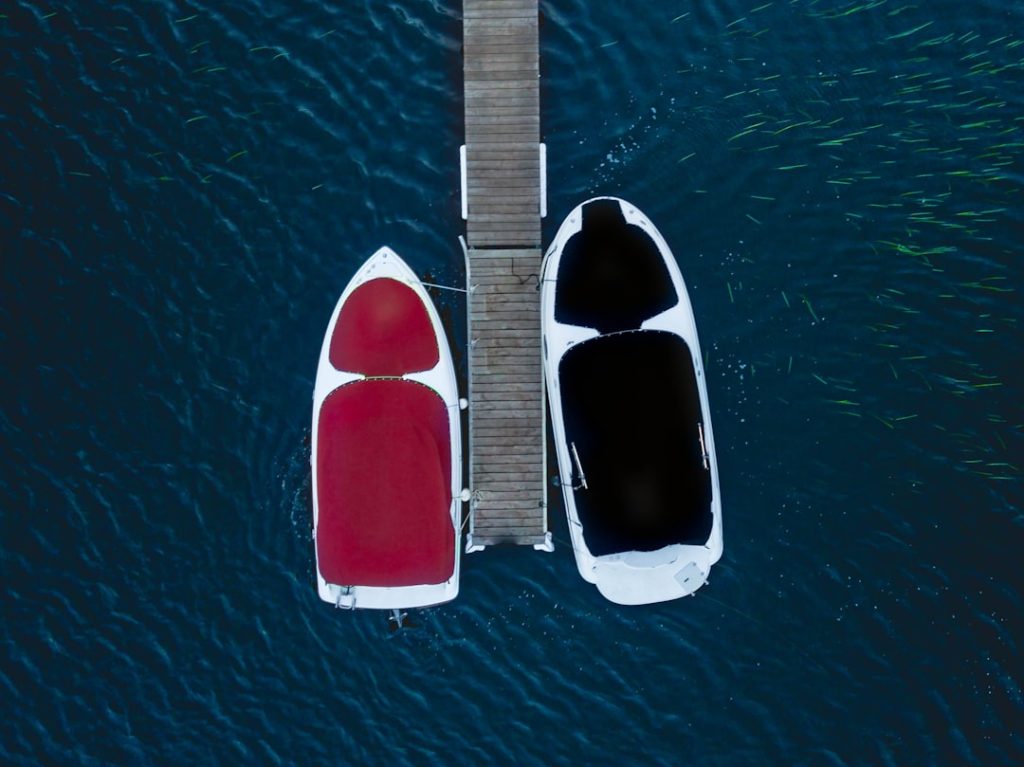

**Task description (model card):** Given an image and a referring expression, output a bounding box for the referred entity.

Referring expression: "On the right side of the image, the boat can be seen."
[539,195,723,605]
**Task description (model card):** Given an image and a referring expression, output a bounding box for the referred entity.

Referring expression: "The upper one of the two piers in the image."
[460,0,547,246]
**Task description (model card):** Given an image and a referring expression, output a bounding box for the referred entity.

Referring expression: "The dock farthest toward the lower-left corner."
[458,236,554,553]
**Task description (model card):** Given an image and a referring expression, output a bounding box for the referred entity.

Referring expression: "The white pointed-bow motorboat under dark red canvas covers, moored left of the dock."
[312,245,463,628]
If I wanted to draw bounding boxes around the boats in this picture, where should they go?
[539,195,723,605]
[312,245,463,628]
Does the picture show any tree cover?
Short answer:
No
